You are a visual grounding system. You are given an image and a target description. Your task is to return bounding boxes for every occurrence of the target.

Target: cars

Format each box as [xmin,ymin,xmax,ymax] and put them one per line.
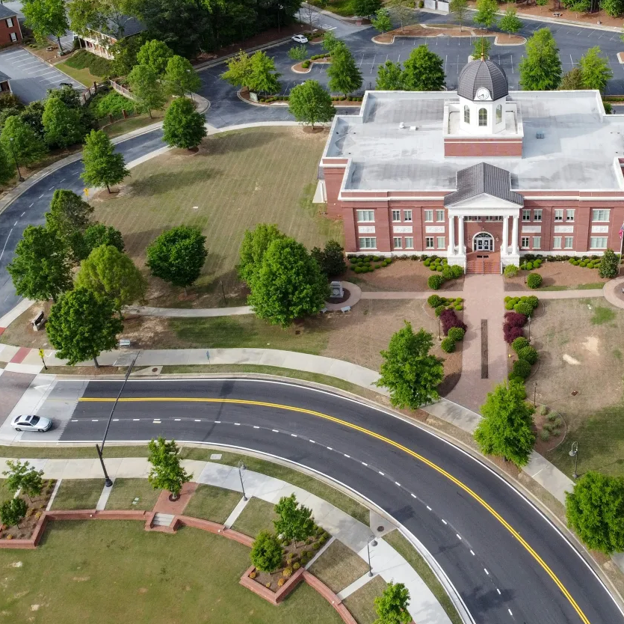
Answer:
[291,34,307,44]
[5,412,54,432]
